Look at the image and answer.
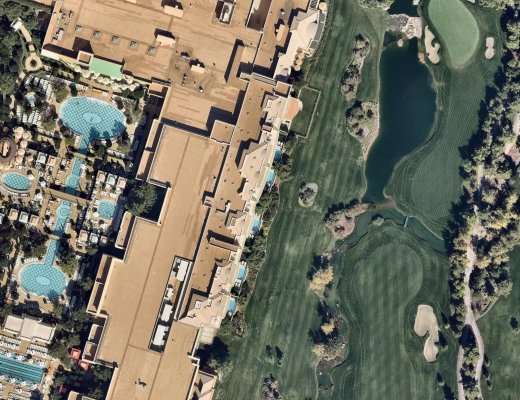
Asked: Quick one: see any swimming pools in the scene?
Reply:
Yes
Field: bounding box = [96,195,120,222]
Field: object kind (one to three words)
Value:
swimming pool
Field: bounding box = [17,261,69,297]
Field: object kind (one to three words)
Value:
swimming pool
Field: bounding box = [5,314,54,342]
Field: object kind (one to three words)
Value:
building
